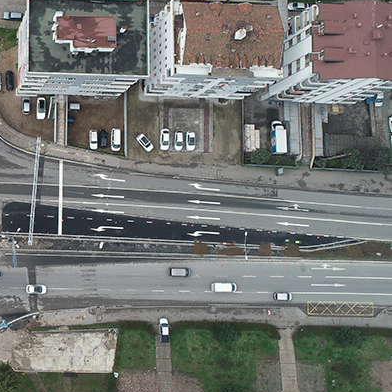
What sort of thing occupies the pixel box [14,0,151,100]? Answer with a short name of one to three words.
building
